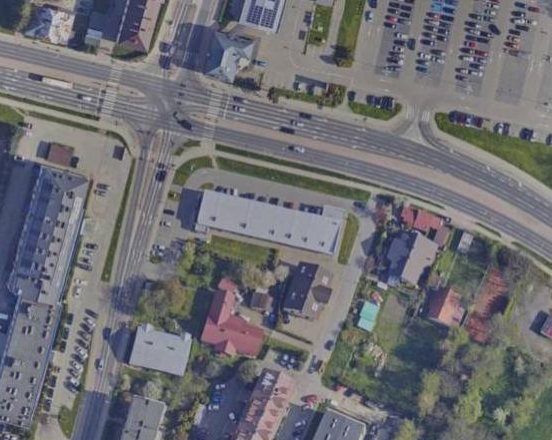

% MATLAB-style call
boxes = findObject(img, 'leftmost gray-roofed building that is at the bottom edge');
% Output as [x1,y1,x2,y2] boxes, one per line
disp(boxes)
[0,294,64,431]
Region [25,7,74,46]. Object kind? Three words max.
house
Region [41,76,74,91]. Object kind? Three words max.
vehicle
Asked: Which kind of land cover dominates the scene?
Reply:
paved ground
